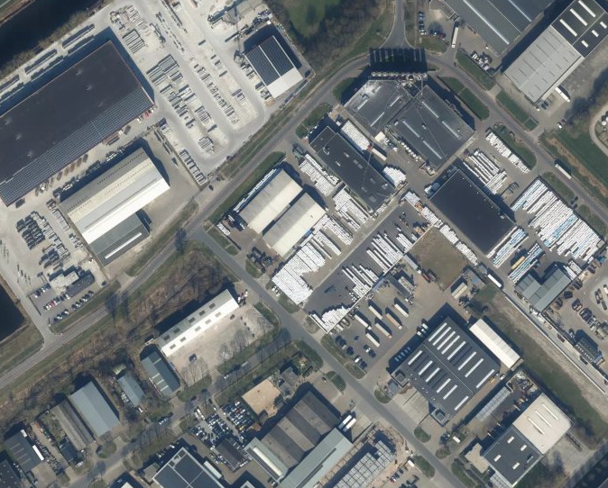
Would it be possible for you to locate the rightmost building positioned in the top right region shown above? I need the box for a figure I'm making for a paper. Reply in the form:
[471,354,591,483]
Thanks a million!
[550,0,608,57]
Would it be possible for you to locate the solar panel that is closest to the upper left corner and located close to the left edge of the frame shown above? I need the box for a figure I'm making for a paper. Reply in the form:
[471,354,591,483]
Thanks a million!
[0,86,153,202]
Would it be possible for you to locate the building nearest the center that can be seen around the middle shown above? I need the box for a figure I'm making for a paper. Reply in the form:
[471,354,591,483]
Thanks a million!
[263,194,325,257]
